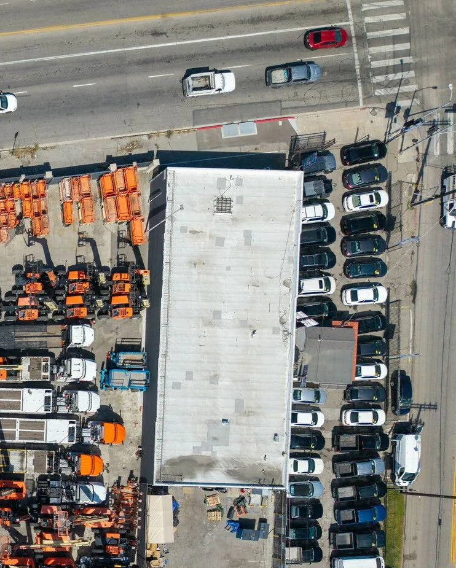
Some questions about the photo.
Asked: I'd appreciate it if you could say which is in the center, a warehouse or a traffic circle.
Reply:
warehouse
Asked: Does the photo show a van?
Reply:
Yes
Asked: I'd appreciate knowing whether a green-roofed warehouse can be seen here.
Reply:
No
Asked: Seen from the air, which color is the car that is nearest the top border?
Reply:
red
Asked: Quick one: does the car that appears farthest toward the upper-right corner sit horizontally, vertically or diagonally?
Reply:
horizontally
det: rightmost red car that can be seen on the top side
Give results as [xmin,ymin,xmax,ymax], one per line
[300,25,349,52]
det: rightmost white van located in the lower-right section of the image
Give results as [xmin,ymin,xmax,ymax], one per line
[390,425,427,487]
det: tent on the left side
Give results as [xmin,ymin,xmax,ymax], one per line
[140,494,174,543]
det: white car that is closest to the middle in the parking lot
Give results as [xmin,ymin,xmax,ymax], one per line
[298,274,337,297]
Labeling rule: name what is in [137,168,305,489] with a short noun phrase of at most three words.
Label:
warehouse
